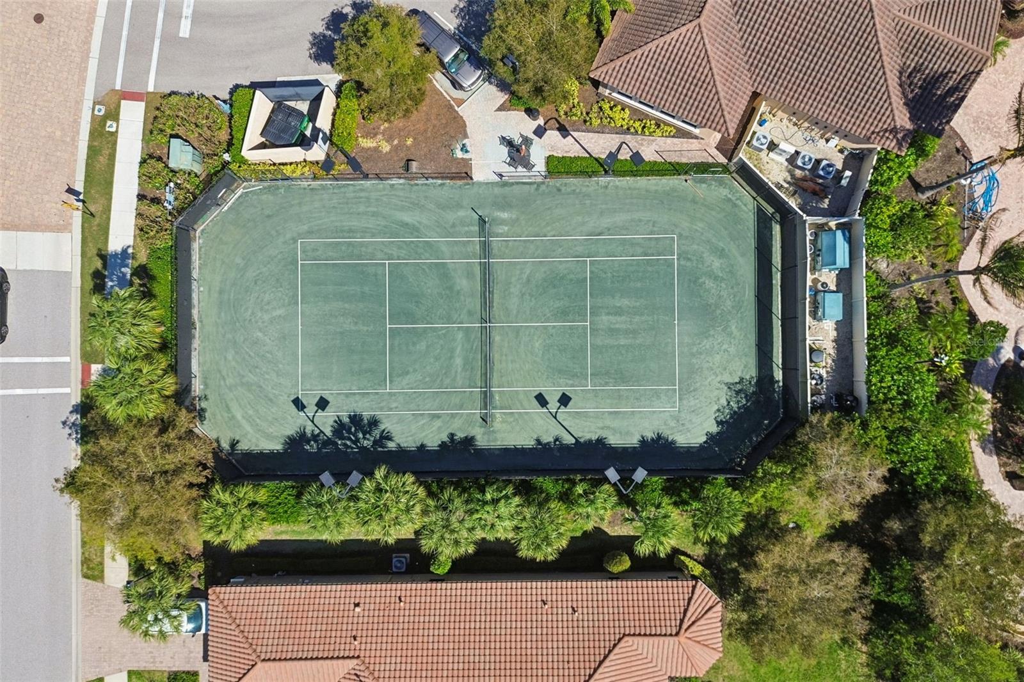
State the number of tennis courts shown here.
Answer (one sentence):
The picture shows 1 tennis court.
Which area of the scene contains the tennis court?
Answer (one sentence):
The tennis court appears toward the center of the photo.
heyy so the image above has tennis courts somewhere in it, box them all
[190,169,788,476]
